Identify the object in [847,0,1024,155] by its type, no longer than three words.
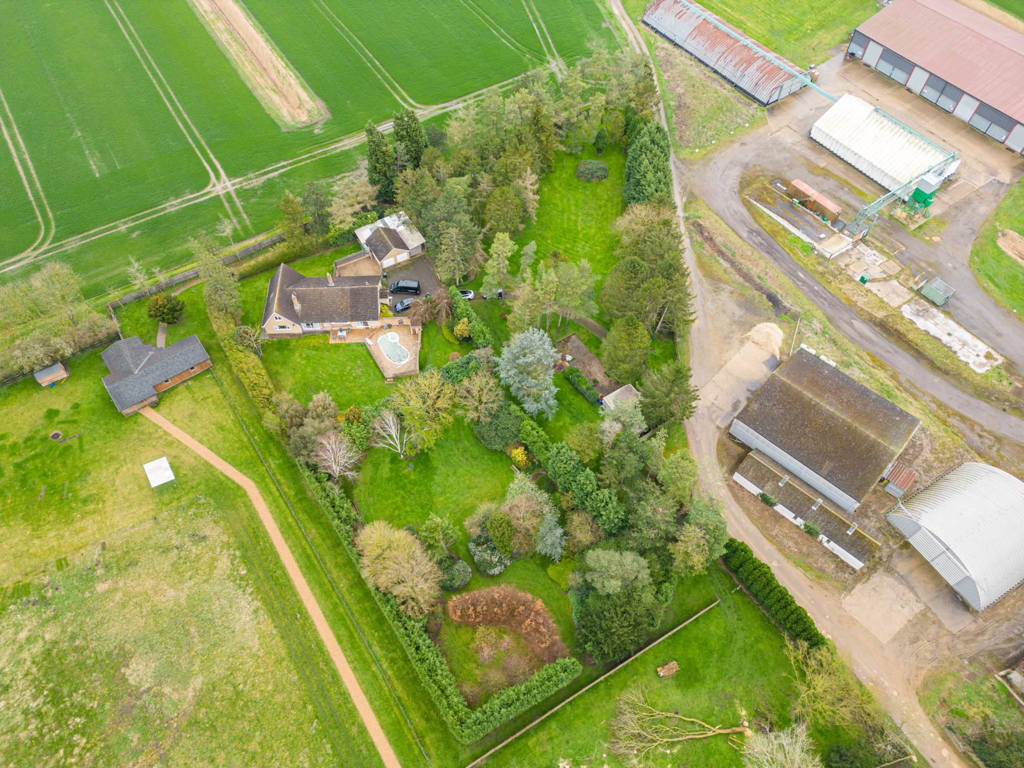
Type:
shed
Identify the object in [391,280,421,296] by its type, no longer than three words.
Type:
vehicle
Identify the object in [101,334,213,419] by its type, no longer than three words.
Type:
building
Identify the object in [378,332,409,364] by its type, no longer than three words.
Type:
swimming pool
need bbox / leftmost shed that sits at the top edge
[642,0,817,105]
